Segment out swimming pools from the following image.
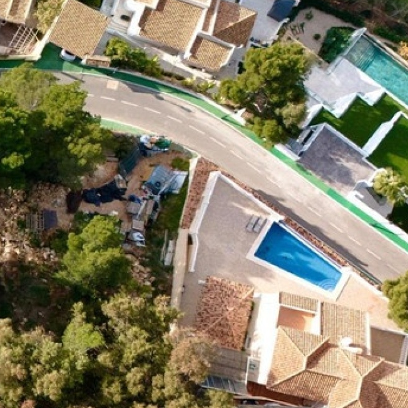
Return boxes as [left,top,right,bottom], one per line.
[247,217,348,299]
[344,36,408,116]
